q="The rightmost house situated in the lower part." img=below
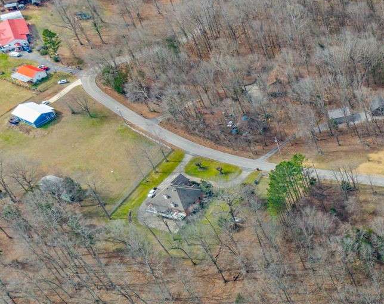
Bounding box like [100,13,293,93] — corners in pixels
[145,170,215,222]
